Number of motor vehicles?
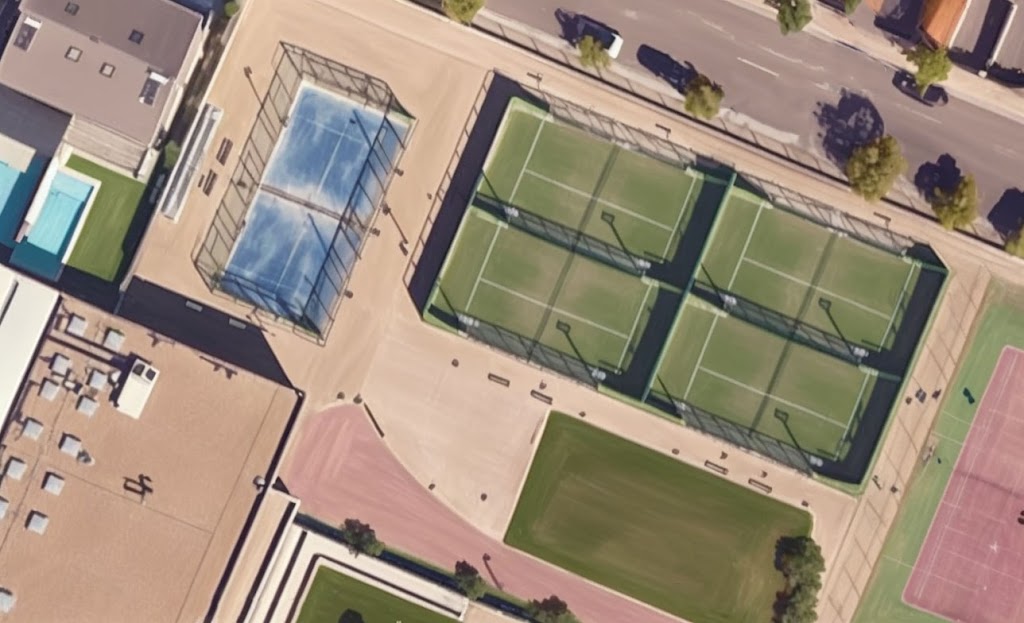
3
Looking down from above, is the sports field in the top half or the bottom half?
bottom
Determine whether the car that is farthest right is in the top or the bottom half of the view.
top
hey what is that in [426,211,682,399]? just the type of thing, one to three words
sports court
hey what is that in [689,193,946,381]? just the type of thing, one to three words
sports court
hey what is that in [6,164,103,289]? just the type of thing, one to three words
swimming pool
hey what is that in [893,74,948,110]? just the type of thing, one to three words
car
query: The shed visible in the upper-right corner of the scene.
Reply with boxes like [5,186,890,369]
[921,0,964,50]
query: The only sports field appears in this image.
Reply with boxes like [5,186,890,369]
[501,408,815,623]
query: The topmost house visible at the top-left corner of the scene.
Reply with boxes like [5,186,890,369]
[0,0,204,155]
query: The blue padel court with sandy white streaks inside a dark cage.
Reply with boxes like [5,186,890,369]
[209,79,413,336]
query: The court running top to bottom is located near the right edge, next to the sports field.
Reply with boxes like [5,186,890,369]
[855,286,1024,623]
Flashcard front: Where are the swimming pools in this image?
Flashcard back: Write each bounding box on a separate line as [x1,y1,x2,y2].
[6,164,103,289]
[0,154,47,249]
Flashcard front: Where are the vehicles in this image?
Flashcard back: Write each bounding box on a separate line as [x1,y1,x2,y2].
[570,18,626,57]
[635,48,693,89]
[893,74,948,110]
